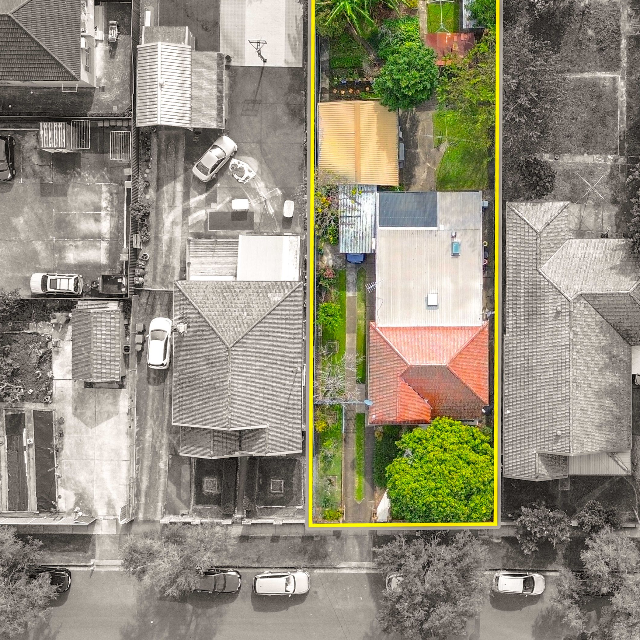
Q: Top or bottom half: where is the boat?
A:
top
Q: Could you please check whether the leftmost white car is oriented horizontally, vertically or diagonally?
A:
horizontally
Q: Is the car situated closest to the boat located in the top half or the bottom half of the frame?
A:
top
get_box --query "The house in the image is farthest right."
[502,200,640,480]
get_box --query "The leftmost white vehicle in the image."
[27,270,87,298]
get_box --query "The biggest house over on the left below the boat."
[171,280,303,459]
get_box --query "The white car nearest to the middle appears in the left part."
[145,316,172,370]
